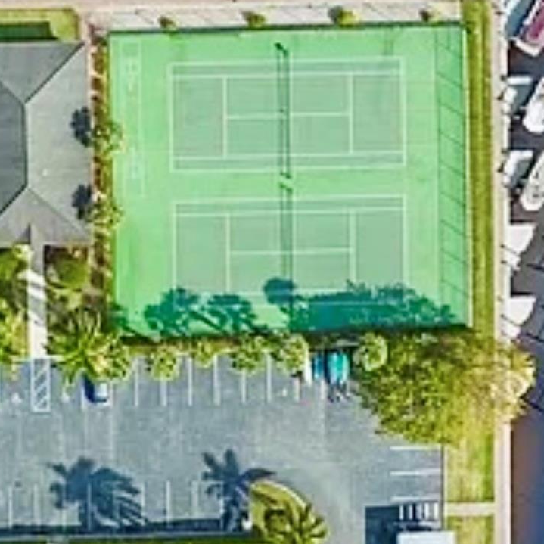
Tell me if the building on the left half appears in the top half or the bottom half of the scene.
top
